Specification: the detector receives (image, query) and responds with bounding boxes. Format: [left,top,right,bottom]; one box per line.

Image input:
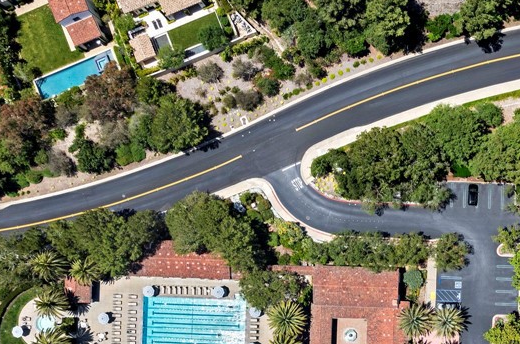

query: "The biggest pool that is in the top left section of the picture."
[32,47,118,104]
